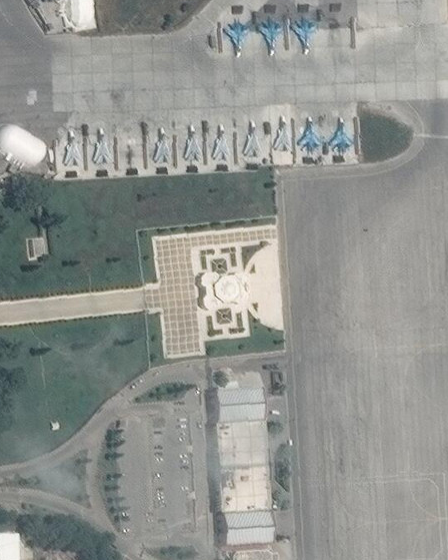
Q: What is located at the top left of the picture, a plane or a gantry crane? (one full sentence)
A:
What appears at the top left of the picture is a plane.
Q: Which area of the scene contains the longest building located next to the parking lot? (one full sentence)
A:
The longest building located next to the parking lot appears toward the bottom of the photo.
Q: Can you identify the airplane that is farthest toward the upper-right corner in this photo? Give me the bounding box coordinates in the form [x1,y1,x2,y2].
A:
[290,17,315,55]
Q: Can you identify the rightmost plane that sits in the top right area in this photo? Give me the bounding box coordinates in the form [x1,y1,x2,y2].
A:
[329,119,352,154]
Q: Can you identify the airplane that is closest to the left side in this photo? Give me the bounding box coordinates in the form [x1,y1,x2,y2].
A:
[64,130,83,165]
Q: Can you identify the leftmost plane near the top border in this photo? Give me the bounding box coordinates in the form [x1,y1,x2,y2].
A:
[224,19,250,58]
